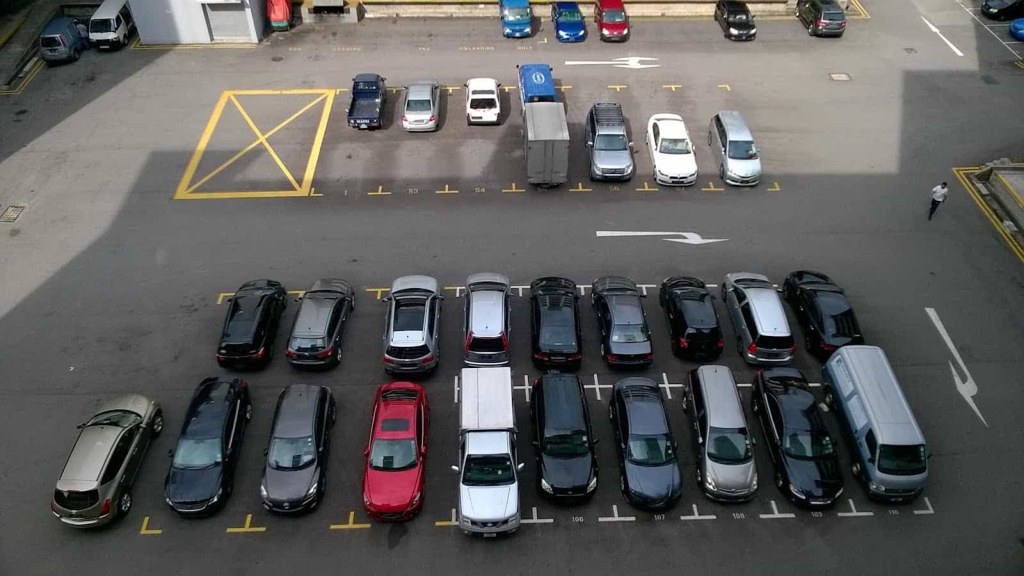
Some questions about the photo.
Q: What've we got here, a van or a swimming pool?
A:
van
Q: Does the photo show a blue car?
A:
Yes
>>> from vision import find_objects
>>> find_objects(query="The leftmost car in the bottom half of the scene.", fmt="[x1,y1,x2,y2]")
[43,397,166,533]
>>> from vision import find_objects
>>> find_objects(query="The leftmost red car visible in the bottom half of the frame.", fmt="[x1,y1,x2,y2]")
[357,382,432,523]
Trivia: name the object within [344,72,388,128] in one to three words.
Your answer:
truck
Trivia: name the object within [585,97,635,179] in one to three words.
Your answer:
car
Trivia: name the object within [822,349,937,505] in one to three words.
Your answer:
van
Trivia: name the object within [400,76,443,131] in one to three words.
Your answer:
car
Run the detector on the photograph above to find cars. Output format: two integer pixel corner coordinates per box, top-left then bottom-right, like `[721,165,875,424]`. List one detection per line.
[592,275,656,367]
[252,383,336,515]
[382,275,443,372]
[530,375,603,505]
[707,112,765,186]
[609,377,689,511]
[647,115,701,186]
[43,397,166,533]
[585,97,635,179]
[661,275,726,361]
[784,264,870,358]
[400,76,443,131]
[1008,13,1024,37]
[357,382,432,523]
[281,278,355,371]
[211,278,288,370]
[983,0,1024,22]
[458,276,518,370]
[463,79,502,125]
[159,378,253,519]
[500,0,535,37]
[723,272,797,367]
[756,372,850,509]
[682,369,763,503]
[594,0,632,42]
[524,276,584,369]
[553,0,589,42]
[712,0,757,40]
[790,0,849,36]
[38,15,95,59]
